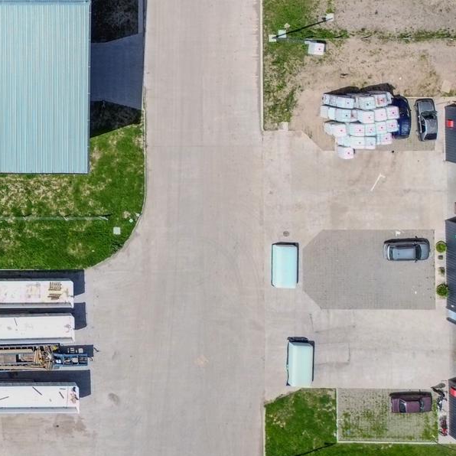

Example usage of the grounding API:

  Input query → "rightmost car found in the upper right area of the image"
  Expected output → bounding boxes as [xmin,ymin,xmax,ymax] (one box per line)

[414,98,440,141]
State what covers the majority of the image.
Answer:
paved ground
